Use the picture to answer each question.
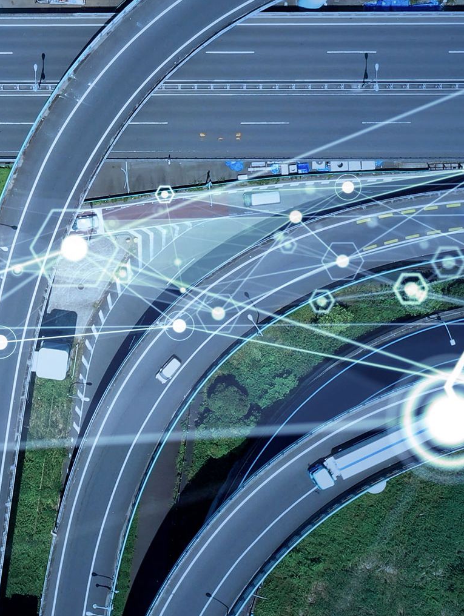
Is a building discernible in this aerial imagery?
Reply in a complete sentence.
No, there isn't any building down there.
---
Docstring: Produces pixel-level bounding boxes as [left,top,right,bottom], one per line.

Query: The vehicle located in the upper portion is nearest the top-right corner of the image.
[240,190,281,210]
